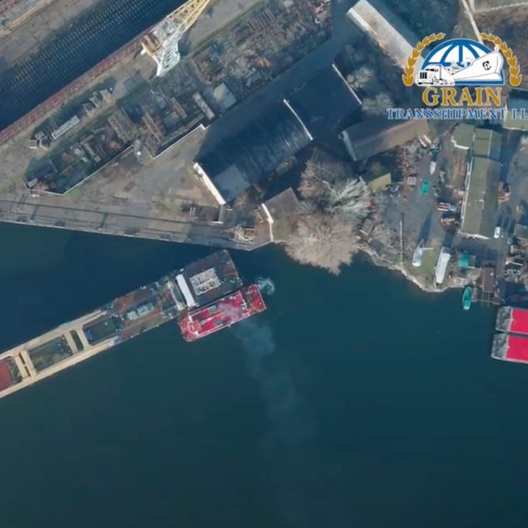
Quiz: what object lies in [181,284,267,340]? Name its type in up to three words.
ship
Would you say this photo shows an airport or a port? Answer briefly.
port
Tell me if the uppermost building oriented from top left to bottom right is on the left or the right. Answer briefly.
right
